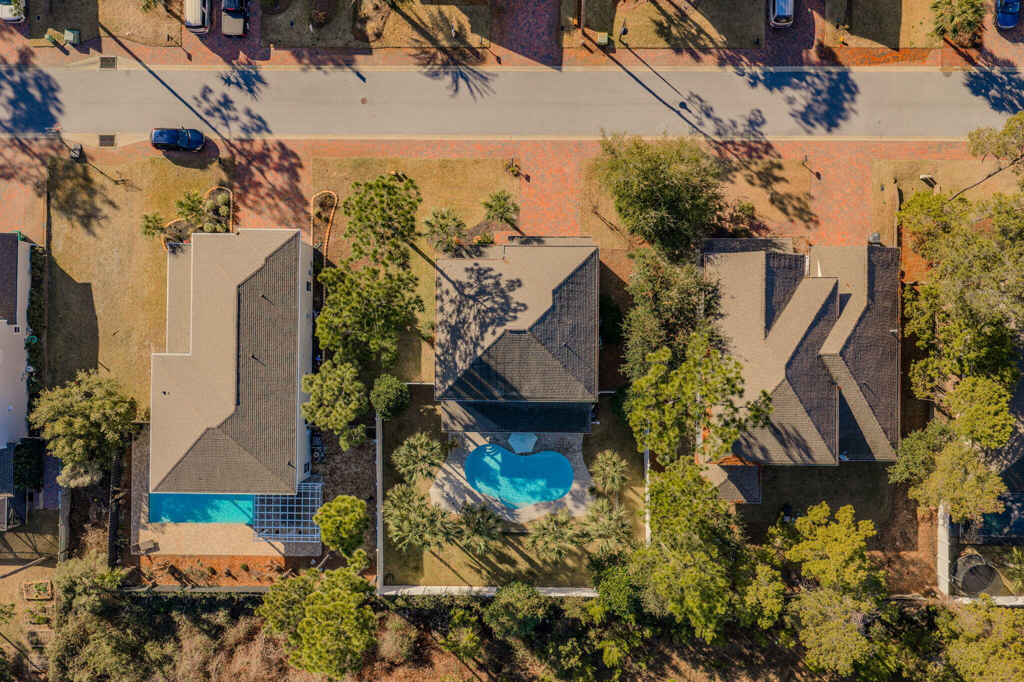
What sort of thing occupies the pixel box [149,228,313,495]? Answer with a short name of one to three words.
house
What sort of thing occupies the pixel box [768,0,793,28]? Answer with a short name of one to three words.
car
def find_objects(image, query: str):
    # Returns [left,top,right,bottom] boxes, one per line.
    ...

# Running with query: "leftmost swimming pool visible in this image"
[147,475,257,526]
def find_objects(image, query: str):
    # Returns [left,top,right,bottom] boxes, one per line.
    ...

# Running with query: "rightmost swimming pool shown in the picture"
[462,441,576,512]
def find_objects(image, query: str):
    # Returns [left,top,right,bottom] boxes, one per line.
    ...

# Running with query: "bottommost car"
[149,126,205,153]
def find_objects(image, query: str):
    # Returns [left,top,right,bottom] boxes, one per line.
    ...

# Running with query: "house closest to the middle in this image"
[432,236,599,433]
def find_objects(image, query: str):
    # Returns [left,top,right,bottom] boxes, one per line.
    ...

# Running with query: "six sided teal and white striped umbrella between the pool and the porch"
[508,433,537,458]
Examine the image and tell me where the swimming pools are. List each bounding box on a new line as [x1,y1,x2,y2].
[462,441,576,512]
[147,475,257,526]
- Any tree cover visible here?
Yes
